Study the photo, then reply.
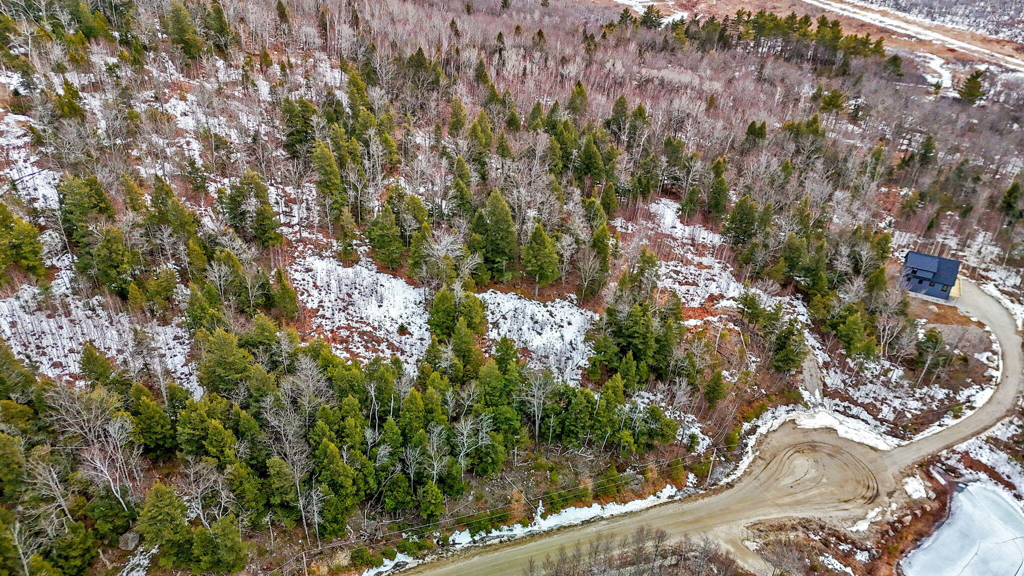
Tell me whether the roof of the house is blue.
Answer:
Yes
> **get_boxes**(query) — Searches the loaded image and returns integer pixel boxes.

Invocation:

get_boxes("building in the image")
[903,250,964,302]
